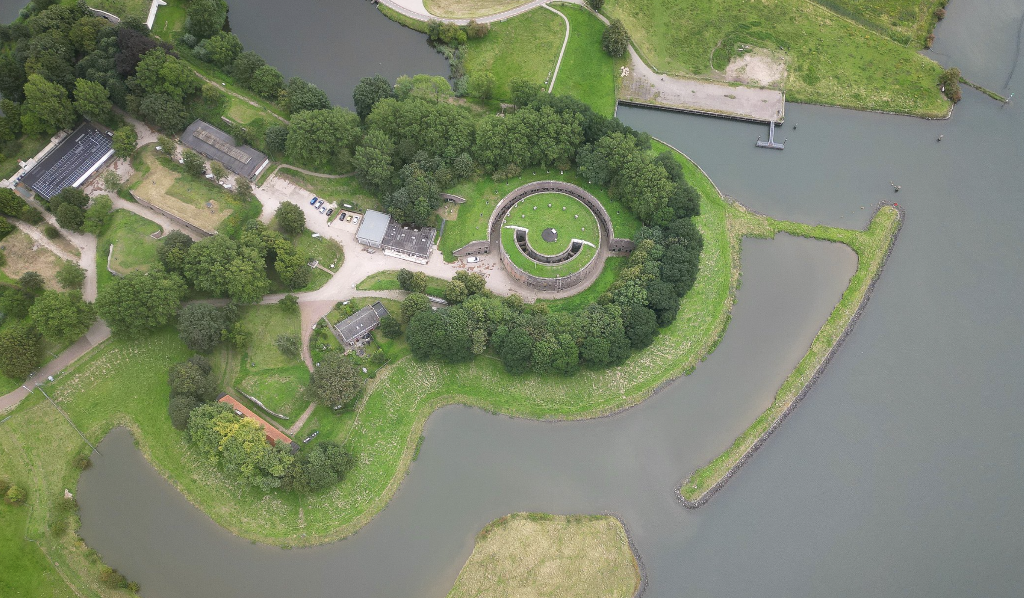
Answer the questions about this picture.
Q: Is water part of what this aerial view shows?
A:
Yes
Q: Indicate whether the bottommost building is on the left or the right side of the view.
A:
left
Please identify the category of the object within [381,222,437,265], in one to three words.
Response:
building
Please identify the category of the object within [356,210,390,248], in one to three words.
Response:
building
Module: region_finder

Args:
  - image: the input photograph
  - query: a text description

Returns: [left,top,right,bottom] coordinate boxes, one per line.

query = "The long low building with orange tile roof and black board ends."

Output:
[213,389,302,458]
